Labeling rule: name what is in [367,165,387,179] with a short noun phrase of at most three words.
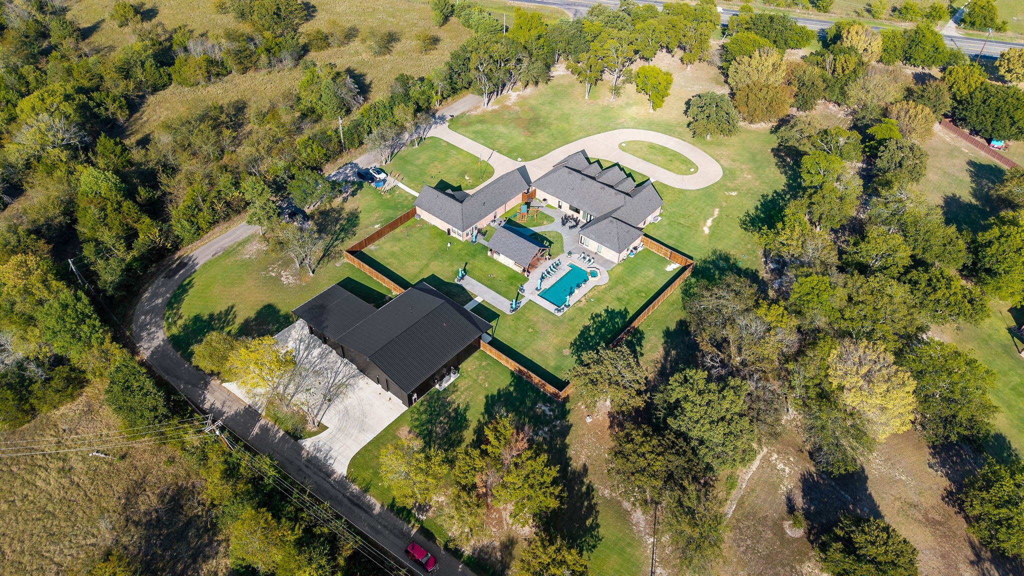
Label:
car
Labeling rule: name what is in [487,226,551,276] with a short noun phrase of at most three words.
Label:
building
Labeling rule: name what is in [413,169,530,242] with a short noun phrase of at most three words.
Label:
house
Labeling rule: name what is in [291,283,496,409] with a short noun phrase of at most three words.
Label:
barn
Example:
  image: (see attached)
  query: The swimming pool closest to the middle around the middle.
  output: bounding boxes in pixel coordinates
[537,262,593,307]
